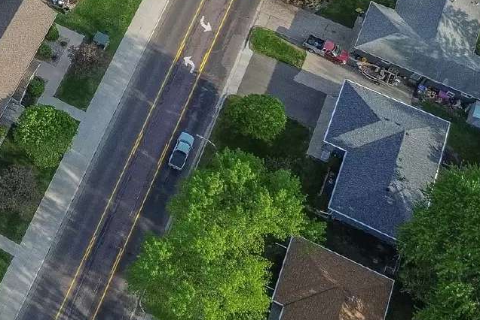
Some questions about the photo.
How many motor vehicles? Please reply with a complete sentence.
In total, there are 2 motor vehicles in the scene.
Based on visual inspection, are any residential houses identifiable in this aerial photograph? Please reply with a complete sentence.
Yes, I can see a residential house in this picture.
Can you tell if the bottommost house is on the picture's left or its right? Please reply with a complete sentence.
The bottommost house is on the right side of the image.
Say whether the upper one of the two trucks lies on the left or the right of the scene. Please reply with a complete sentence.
The upper one of the two trucks sits on the right side.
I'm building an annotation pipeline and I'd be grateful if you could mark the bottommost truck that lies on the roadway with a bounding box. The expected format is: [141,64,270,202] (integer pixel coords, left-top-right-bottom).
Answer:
[164,127,198,176]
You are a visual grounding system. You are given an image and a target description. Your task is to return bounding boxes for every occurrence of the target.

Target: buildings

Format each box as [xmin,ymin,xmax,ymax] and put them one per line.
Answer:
[320,79,449,251]
[264,241,382,320]
[0,0,59,119]
[349,0,480,105]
